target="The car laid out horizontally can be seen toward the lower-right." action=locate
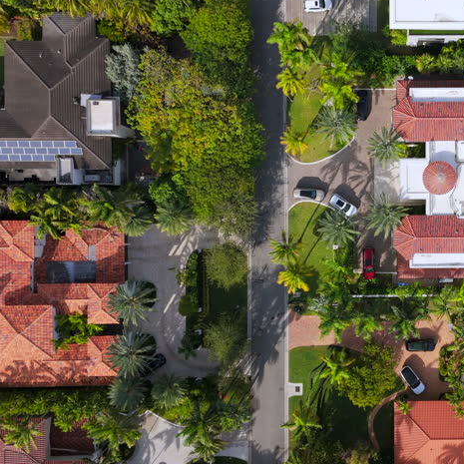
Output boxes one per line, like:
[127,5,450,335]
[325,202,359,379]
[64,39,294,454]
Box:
[405,338,436,353]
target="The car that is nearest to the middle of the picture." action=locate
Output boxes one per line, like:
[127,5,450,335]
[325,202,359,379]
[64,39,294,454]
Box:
[294,189,326,203]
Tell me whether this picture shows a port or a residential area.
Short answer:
residential area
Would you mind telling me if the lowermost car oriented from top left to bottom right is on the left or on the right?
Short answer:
right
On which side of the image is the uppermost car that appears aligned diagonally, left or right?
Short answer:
right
